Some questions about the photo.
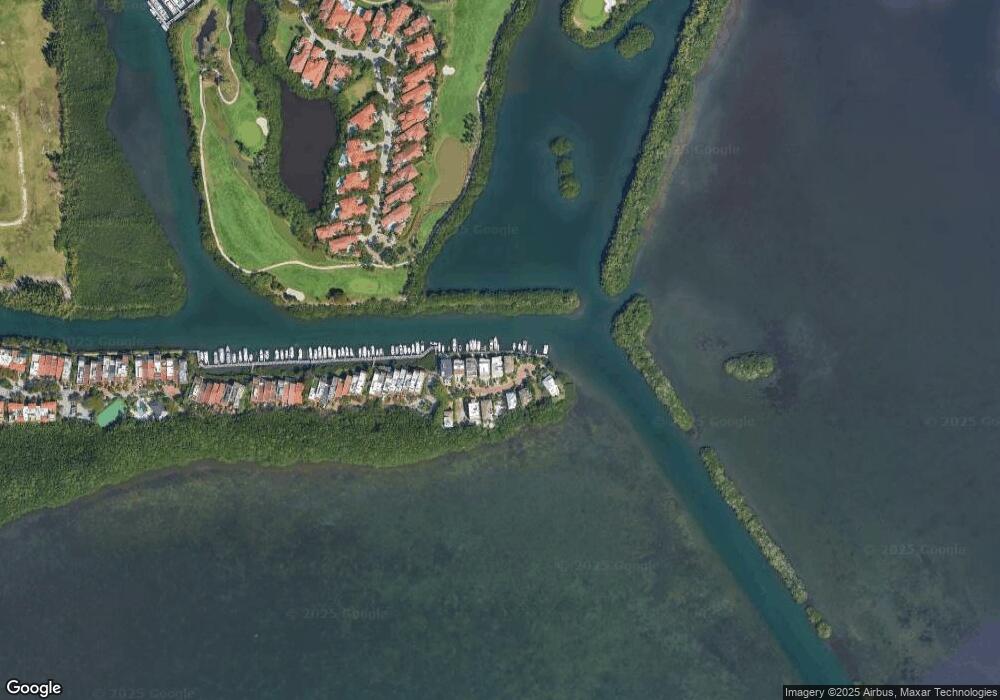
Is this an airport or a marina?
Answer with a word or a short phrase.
marina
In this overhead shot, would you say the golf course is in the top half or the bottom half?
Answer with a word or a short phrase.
top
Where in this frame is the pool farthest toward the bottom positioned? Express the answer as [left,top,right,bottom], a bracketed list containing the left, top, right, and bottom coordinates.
[131,397,150,417]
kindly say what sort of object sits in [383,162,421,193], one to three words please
house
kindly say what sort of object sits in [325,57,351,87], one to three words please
house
